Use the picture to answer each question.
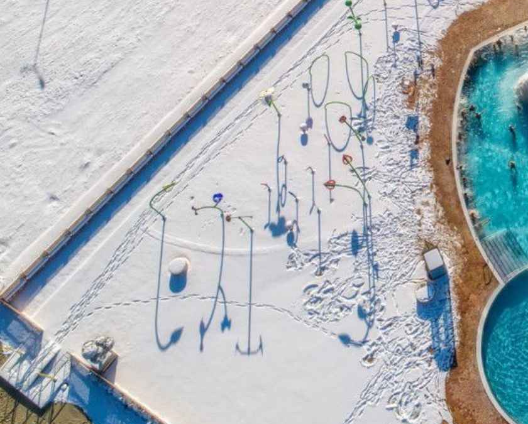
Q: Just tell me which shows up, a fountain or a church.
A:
fountain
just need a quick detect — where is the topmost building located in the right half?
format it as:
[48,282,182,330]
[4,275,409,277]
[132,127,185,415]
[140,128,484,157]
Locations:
[424,249,447,282]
